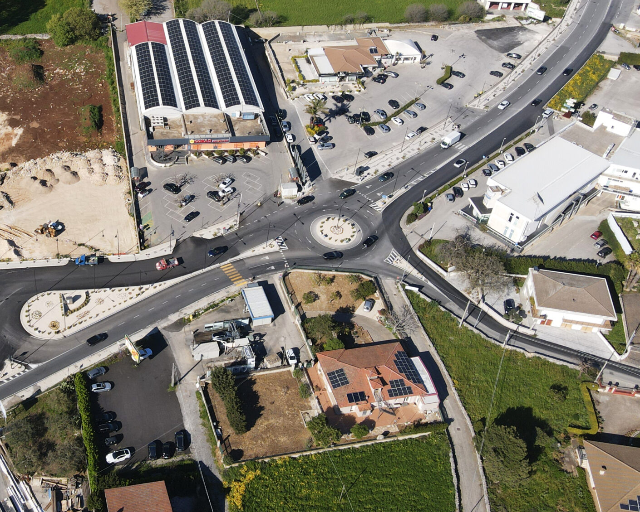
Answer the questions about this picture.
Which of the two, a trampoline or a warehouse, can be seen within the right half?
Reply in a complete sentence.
What appears within the right half is a warehouse.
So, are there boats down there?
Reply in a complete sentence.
No, no boat is visible in the view.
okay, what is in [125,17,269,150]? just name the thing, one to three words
building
